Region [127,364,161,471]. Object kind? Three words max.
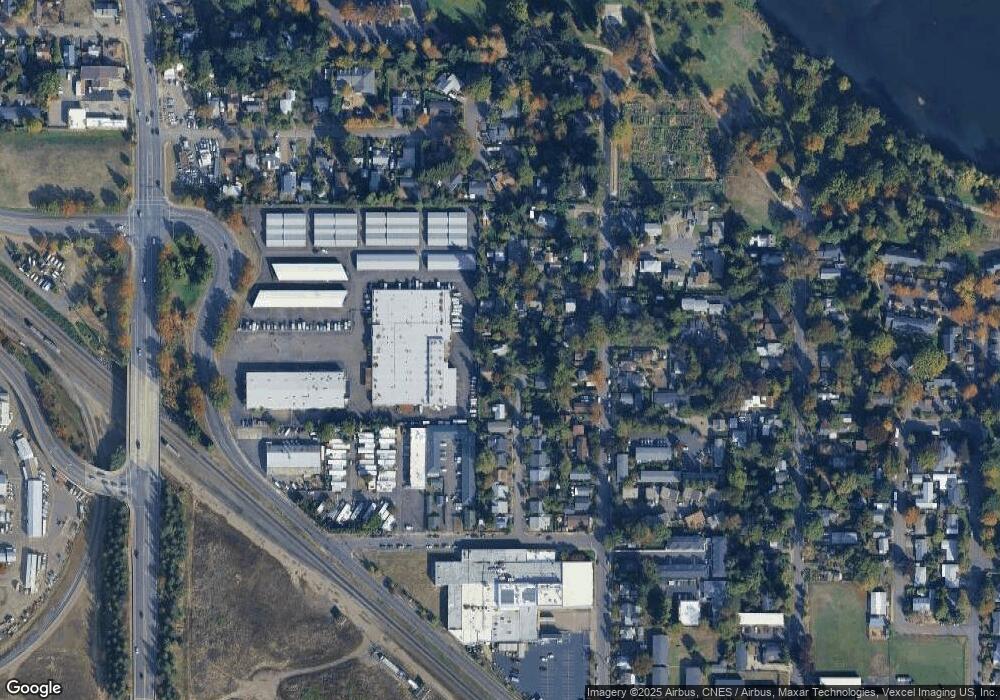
overpass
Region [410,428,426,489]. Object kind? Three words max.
building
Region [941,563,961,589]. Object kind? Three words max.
house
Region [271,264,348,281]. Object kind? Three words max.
shed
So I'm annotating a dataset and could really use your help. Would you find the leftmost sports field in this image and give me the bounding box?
[808,581,888,690]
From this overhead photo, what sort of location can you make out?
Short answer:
residential area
